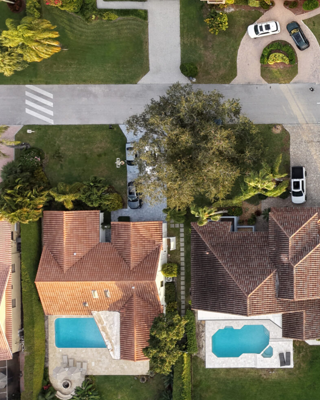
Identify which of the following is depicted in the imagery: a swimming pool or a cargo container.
swimming pool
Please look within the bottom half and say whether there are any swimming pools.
Yes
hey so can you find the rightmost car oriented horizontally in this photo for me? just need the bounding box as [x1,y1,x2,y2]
[249,20,281,39]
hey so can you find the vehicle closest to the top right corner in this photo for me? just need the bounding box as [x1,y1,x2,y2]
[287,20,311,52]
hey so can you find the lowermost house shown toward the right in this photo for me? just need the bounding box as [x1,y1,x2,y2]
[190,207,320,341]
